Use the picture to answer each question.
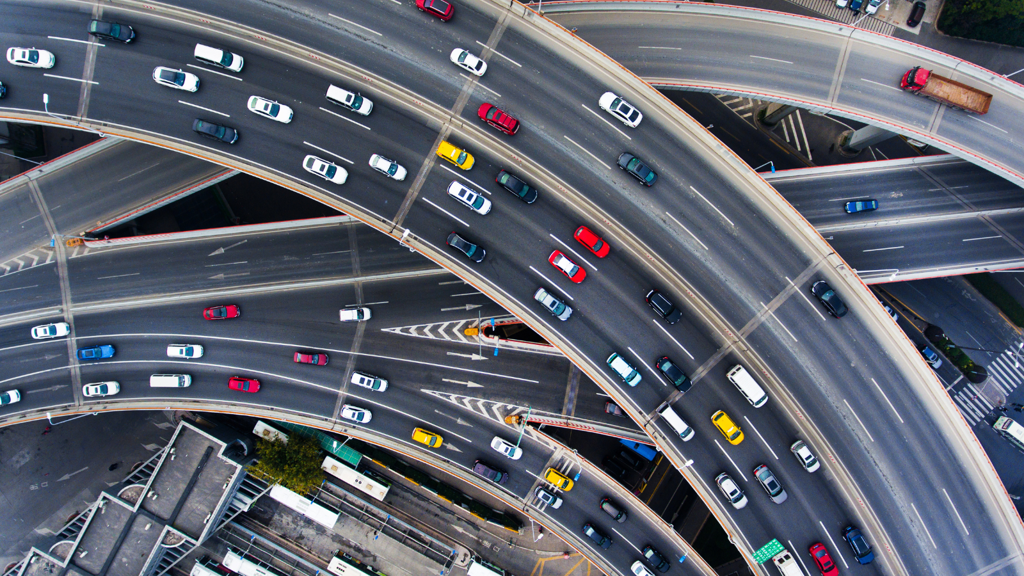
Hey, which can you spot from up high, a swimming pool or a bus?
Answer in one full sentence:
Of the two, only a bus appears.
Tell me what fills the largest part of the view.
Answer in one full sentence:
Most of the picture is covered by paved ground.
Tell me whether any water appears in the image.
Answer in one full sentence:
No, the picture contains no water.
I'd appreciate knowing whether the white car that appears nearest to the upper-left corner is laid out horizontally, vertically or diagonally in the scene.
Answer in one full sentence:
From this overhead view, the white car that appears nearest to the upper-left corner appears to run horizontally.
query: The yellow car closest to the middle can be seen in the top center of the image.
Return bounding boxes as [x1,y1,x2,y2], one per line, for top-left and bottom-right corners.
[436,142,475,171]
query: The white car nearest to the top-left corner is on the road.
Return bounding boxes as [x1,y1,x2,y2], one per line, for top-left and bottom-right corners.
[7,46,58,70]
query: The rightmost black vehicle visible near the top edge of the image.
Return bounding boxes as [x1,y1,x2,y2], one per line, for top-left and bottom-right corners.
[906,0,928,27]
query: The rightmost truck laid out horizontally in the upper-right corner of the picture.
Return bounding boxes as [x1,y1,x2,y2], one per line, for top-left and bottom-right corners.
[900,69,995,113]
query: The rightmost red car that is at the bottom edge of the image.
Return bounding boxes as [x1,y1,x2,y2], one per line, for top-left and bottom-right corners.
[807,540,838,576]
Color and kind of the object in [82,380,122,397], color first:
white car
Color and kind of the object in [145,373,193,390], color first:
white vehicle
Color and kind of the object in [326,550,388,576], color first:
white bus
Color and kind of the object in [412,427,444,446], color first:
yellow car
